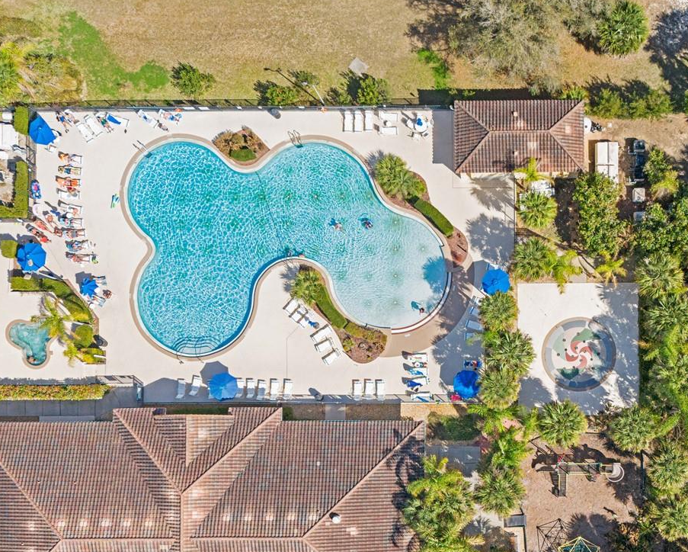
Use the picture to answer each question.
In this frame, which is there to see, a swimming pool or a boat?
swimming pool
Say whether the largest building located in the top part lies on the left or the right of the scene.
right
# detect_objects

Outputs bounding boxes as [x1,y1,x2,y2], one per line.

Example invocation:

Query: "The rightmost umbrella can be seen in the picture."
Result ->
[482,267,509,294]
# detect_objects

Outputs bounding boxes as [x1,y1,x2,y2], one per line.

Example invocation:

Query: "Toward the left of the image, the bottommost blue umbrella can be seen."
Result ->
[208,371,239,401]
